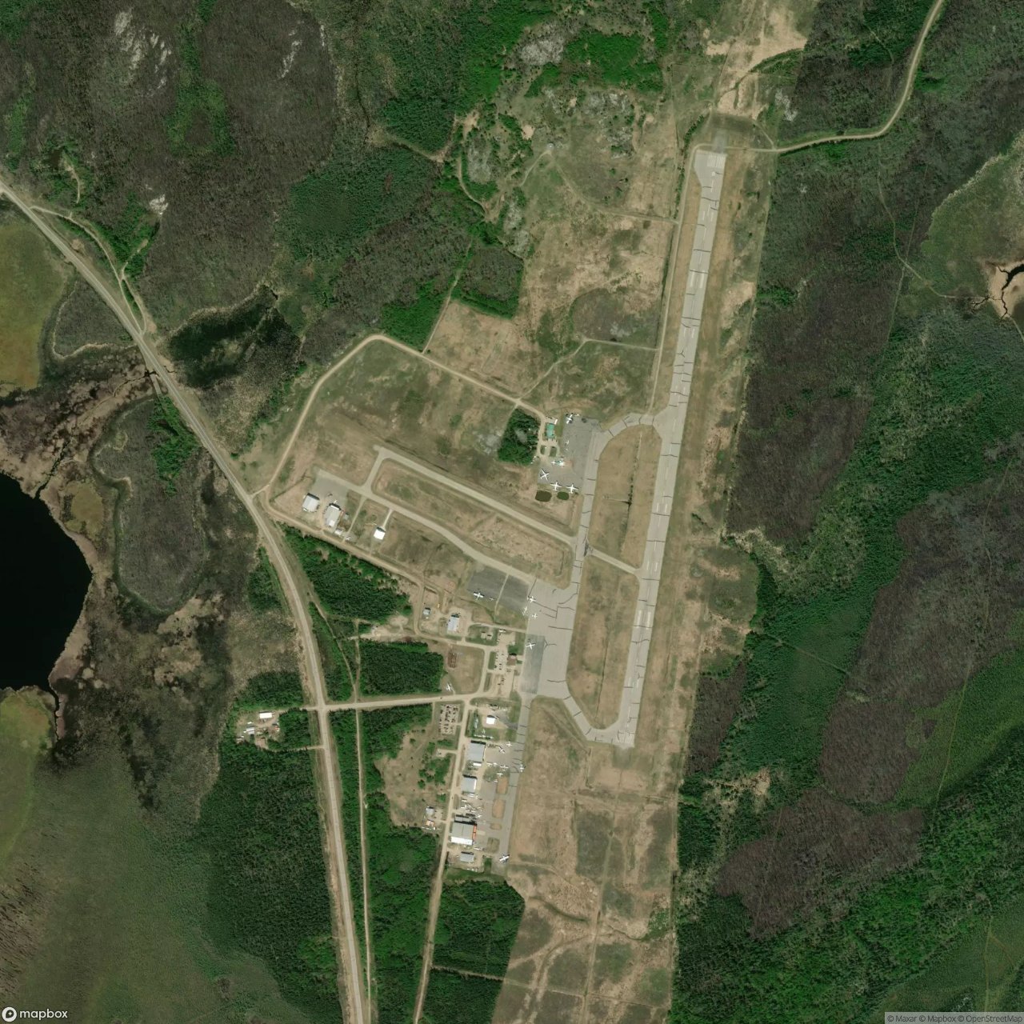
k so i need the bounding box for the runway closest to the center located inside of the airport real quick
[374,445,635,573]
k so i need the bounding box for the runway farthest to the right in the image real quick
[615,150,727,750]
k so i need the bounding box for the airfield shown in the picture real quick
[308,131,727,877]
